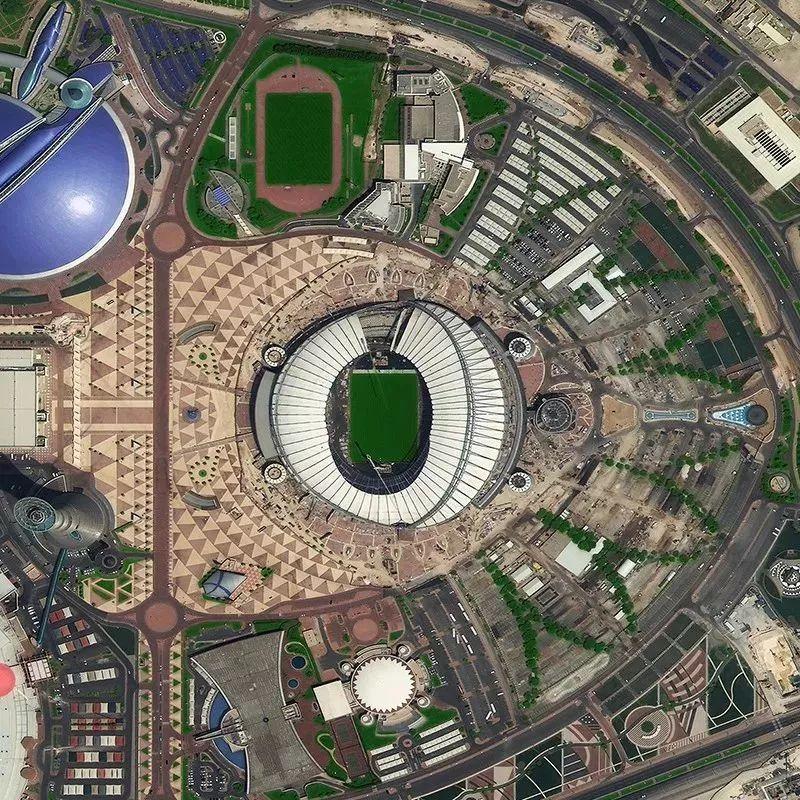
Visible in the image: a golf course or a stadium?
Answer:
stadium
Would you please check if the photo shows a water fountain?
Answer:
Yes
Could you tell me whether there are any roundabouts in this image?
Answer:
Yes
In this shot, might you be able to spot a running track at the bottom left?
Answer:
No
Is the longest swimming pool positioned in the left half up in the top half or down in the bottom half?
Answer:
bottom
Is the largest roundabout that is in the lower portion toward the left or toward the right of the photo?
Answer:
left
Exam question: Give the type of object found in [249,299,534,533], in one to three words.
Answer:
stadium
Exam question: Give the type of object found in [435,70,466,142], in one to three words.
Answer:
building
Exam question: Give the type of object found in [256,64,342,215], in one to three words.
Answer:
running track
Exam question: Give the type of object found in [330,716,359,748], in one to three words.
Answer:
tennis court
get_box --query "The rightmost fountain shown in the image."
[709,403,752,428]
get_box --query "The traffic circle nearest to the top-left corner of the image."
[145,213,194,262]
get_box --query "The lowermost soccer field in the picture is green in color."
[350,372,417,463]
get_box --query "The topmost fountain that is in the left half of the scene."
[184,405,202,423]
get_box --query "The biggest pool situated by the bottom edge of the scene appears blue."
[209,691,247,771]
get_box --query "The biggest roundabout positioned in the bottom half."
[134,590,188,643]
